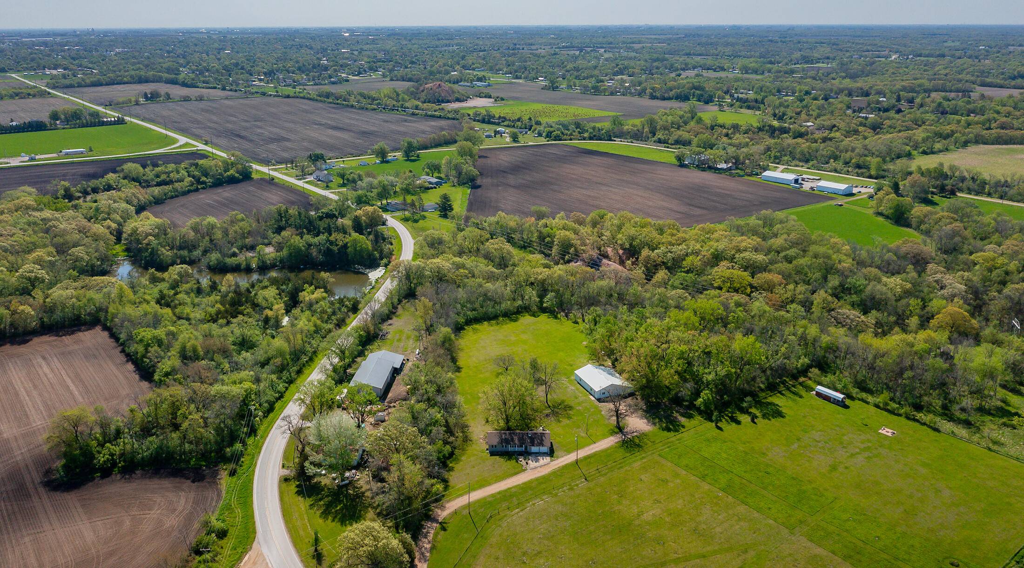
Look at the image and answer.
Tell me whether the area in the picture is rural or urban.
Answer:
rural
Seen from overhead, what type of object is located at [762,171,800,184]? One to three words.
shed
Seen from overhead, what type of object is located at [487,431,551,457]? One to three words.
house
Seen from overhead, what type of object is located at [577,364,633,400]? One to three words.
barn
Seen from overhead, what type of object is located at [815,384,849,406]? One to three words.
building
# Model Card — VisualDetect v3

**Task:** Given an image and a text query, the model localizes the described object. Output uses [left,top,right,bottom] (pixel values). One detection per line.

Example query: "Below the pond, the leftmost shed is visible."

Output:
[348,349,410,397]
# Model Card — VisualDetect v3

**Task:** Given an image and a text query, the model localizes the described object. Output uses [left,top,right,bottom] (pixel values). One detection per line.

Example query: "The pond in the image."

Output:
[111,260,383,310]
